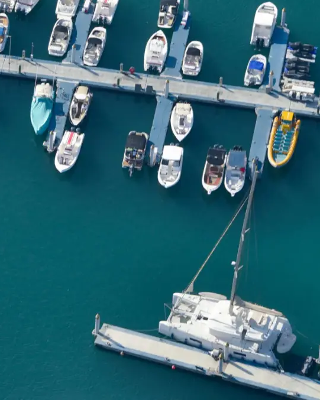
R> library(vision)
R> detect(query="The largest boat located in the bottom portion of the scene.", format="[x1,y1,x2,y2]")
[160,183,293,367]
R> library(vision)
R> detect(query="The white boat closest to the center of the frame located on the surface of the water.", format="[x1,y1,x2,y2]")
[158,141,183,191]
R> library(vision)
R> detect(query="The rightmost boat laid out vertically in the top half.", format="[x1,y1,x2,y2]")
[267,109,303,169]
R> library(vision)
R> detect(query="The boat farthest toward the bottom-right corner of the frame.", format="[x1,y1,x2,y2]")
[298,354,314,378]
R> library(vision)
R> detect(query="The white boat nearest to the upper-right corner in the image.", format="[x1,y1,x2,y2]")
[250,2,277,51]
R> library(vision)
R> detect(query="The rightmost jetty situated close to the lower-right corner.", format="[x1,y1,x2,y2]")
[218,359,320,400]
